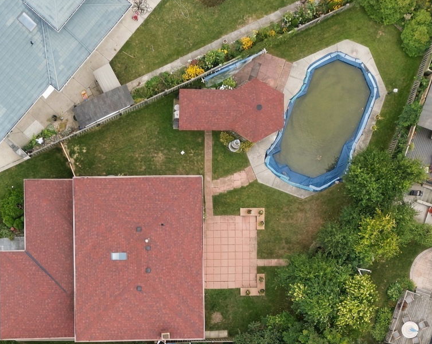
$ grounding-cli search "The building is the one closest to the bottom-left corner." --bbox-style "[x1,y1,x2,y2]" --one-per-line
[0,175,206,343]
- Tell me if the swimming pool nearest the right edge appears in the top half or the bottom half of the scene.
top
